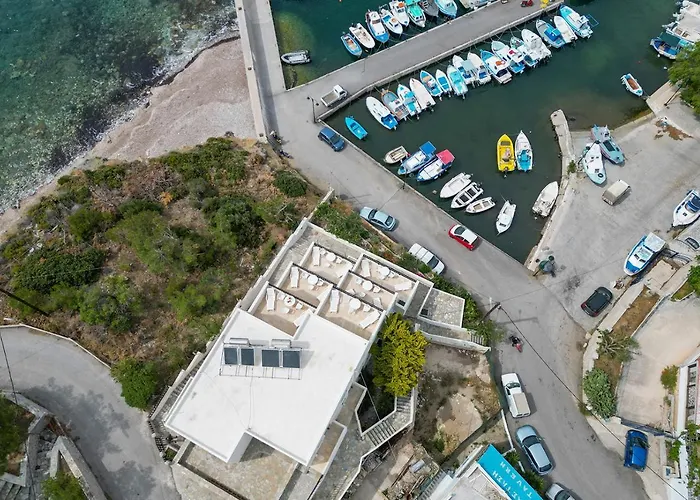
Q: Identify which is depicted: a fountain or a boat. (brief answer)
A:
boat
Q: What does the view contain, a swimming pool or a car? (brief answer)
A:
car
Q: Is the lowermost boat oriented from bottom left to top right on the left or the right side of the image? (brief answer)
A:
right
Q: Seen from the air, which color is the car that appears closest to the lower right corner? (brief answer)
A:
blue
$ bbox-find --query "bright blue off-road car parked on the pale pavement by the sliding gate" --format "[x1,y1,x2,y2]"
[626,427,654,472]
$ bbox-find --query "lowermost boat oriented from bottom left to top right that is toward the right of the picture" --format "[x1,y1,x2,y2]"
[623,223,676,274]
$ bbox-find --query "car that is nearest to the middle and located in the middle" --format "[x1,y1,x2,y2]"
[358,205,398,232]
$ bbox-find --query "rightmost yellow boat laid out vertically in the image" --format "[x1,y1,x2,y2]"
[498,133,514,177]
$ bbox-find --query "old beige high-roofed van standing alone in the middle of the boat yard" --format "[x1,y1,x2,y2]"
[601,174,638,204]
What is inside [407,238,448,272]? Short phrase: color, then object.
white car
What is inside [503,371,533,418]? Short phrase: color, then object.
white truck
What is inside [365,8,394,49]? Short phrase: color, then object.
white boat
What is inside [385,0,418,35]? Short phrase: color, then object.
white boat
